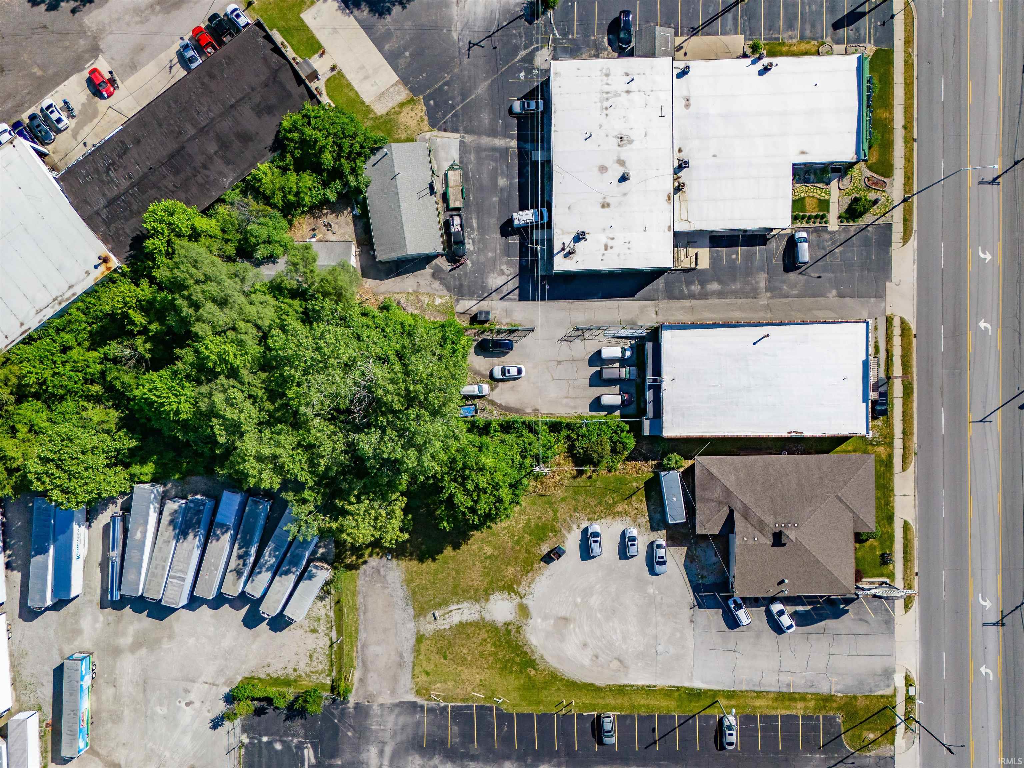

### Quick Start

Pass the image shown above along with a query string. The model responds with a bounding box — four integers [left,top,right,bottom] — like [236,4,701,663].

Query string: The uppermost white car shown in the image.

[225,1,251,30]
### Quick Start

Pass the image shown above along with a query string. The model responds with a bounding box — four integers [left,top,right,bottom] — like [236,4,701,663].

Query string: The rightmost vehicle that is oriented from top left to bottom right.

[769,599,797,635]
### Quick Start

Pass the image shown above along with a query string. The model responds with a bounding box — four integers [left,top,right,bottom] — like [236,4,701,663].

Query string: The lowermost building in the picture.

[694,453,875,597]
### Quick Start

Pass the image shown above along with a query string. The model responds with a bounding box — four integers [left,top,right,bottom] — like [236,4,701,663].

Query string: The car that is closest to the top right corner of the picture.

[793,230,811,267]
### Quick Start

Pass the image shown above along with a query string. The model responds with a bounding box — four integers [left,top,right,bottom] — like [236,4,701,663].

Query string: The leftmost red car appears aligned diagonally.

[88,66,116,102]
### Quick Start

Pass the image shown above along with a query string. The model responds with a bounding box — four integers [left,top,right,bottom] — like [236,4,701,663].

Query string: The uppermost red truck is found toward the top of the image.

[190,24,218,56]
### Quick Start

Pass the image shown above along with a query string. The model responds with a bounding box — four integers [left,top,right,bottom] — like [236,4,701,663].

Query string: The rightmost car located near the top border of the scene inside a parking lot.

[618,9,634,53]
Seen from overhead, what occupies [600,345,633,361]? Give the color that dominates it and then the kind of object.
white vehicle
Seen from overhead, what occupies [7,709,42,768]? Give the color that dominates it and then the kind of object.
white trailer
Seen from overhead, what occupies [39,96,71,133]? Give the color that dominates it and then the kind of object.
white car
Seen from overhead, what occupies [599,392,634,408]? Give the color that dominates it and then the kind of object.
white car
